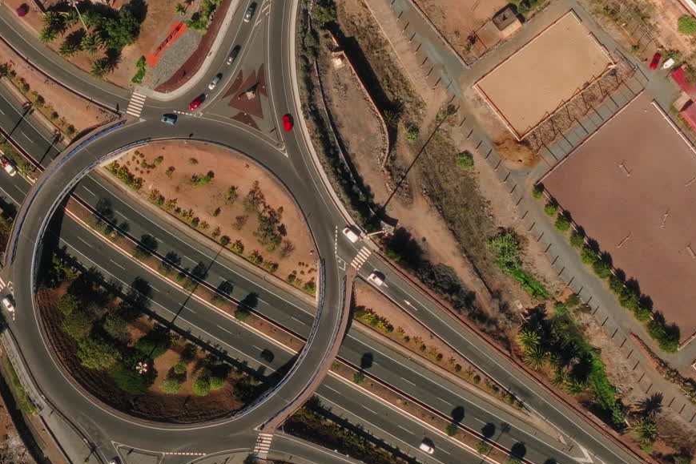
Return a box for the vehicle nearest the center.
[343,226,362,245]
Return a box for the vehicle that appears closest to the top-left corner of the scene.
[0,155,17,176]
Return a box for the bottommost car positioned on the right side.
[420,441,436,455]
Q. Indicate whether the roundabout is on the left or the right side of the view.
left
